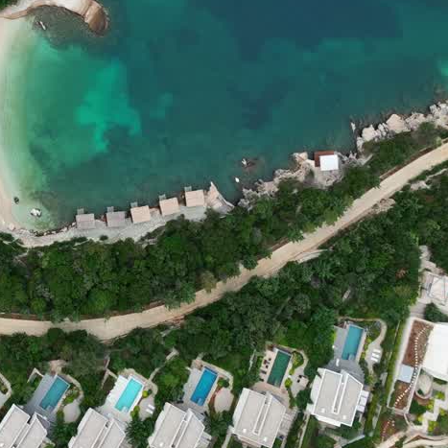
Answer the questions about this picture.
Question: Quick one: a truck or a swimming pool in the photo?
swimming pool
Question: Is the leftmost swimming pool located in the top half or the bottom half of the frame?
bottom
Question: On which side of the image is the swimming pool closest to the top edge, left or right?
right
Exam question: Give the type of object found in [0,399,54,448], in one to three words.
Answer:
house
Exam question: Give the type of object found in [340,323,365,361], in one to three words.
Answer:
swimming pool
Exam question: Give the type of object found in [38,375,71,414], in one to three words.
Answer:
swimming pool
